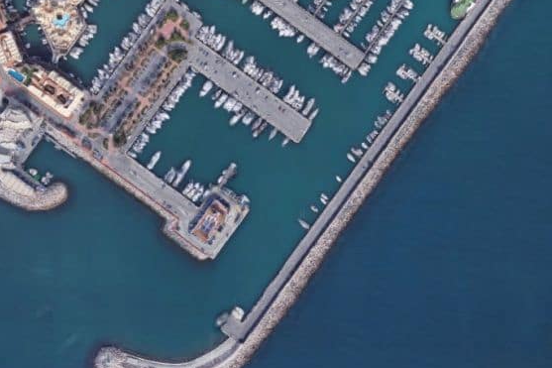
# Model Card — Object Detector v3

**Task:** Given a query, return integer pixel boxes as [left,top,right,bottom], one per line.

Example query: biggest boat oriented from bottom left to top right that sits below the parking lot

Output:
[172,162,189,187]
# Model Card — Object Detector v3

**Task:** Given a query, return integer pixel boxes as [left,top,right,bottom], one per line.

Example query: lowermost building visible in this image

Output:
[192,201,227,239]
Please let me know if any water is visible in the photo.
Yes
